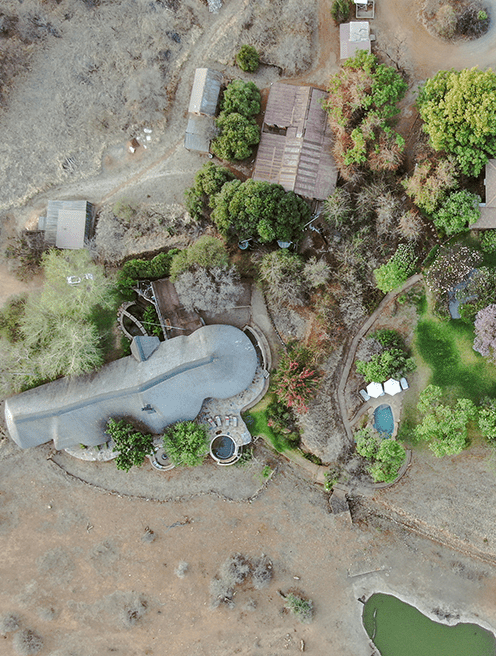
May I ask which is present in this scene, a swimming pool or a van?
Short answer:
swimming pool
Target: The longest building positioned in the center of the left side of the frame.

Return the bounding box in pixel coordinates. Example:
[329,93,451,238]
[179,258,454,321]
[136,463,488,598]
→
[4,324,257,450]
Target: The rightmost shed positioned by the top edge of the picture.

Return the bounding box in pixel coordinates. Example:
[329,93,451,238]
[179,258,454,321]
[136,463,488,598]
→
[340,22,375,63]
